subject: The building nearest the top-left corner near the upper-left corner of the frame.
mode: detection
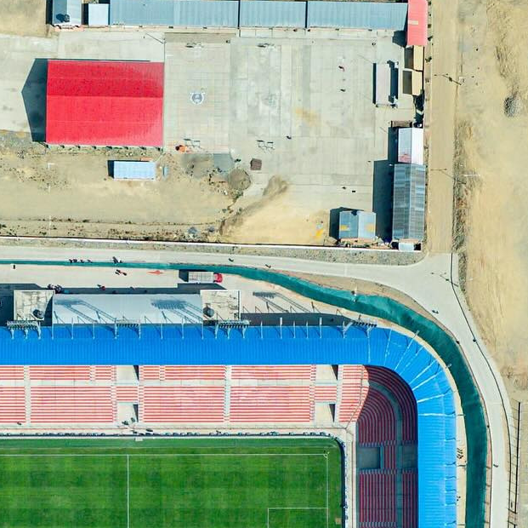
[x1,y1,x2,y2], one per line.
[53,0,81,32]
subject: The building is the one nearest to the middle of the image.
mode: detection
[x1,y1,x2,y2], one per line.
[338,210,376,243]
